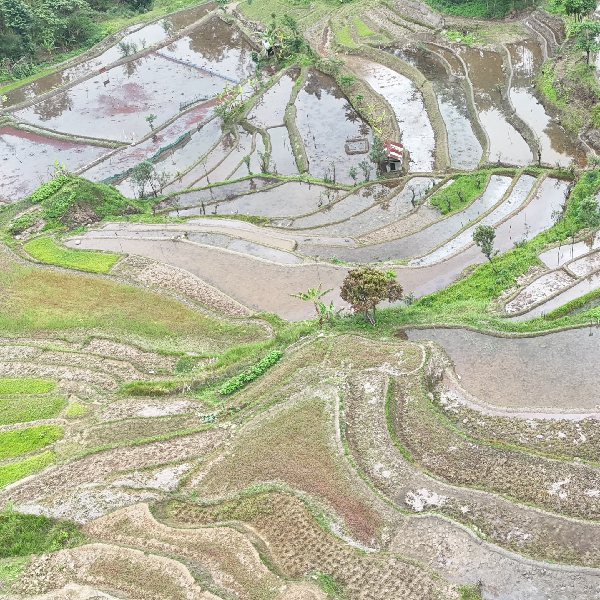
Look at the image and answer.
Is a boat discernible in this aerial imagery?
No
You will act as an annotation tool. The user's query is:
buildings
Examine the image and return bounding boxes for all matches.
[257,40,280,63]
[380,137,406,167]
